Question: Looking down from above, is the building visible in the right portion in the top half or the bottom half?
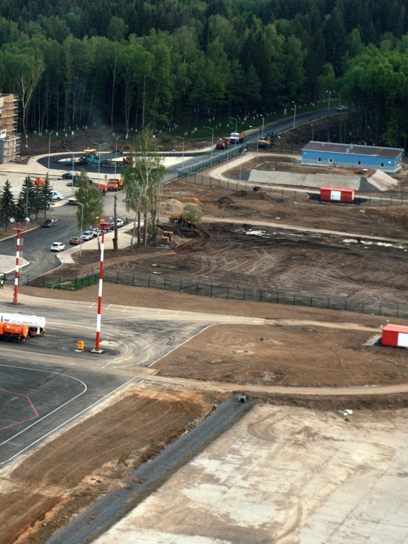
top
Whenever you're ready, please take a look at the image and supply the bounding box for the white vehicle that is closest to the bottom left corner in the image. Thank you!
[0,313,47,338]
